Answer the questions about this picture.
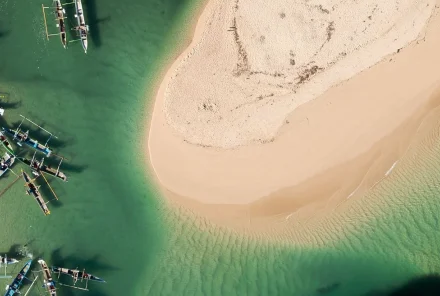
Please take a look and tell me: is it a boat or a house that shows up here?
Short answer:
boat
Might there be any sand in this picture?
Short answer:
Yes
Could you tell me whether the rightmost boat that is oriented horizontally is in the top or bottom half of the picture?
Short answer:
bottom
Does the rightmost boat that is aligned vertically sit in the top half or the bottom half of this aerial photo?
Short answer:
top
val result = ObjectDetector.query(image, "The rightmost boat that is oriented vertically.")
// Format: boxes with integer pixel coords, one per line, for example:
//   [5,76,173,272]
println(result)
[62,0,90,53]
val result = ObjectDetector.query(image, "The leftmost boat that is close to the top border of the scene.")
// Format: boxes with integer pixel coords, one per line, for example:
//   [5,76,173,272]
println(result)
[42,0,67,49]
